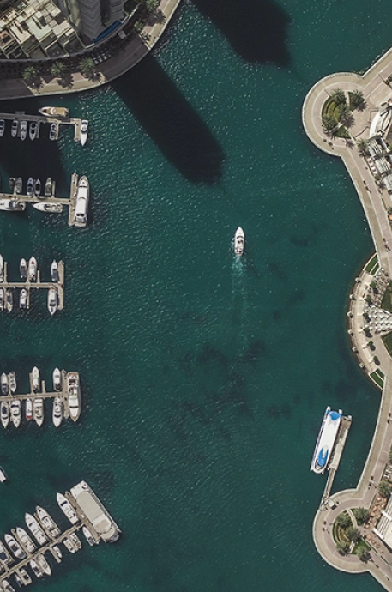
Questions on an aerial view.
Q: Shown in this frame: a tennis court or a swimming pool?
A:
swimming pool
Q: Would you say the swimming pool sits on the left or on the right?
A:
left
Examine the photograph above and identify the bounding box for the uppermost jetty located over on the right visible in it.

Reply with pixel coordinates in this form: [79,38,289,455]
[330,416,351,469]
